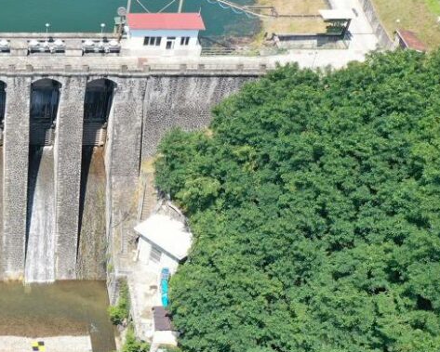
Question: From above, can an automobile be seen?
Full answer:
No, there isn't any automobile down there.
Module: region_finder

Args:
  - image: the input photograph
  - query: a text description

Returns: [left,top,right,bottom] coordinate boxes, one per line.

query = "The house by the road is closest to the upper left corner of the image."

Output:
[117,5,210,57]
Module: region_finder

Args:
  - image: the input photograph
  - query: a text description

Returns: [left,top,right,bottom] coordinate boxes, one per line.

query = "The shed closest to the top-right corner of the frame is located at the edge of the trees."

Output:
[390,28,425,64]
